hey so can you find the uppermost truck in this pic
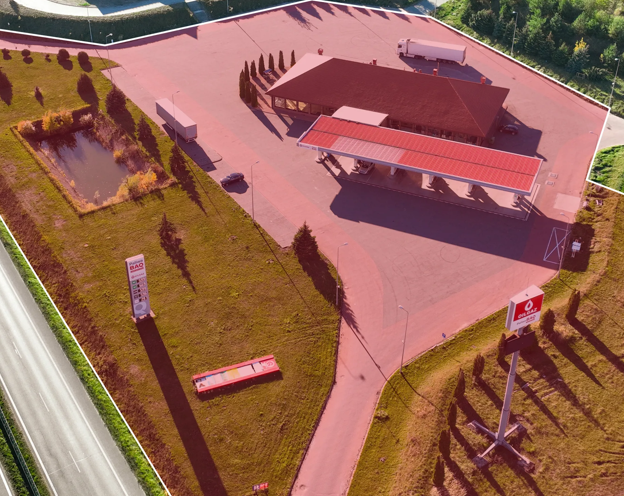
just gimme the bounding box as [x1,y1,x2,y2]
[398,38,467,63]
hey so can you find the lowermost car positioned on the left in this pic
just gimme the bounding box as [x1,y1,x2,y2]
[219,170,247,185]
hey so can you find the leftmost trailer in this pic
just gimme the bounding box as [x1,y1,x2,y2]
[156,98,198,143]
